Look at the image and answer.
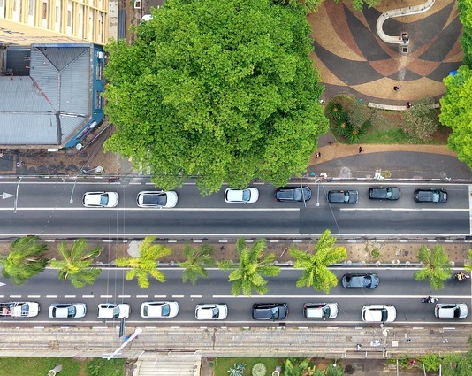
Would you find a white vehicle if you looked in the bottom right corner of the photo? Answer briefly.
Yes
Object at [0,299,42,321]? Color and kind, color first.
white truck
